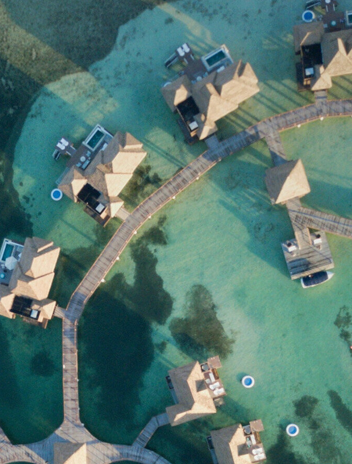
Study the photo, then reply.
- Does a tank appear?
No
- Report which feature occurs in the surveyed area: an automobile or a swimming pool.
swimming pool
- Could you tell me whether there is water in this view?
Yes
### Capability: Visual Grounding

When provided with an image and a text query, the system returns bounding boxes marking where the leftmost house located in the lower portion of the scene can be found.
[0,236,61,329]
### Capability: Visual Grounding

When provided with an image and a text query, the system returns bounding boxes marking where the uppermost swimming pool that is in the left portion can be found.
[84,124,115,153]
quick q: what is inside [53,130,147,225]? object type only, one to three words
house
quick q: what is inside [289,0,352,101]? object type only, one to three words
house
